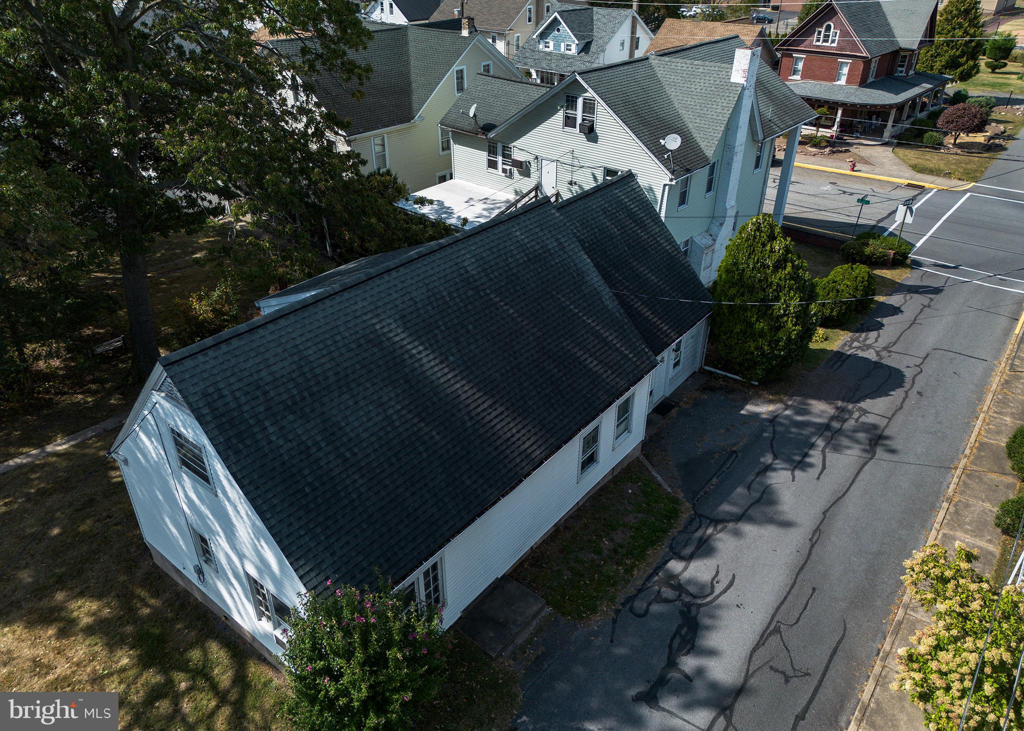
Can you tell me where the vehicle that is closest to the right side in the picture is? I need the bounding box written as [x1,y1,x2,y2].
[751,12,776,25]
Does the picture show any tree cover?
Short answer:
Yes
